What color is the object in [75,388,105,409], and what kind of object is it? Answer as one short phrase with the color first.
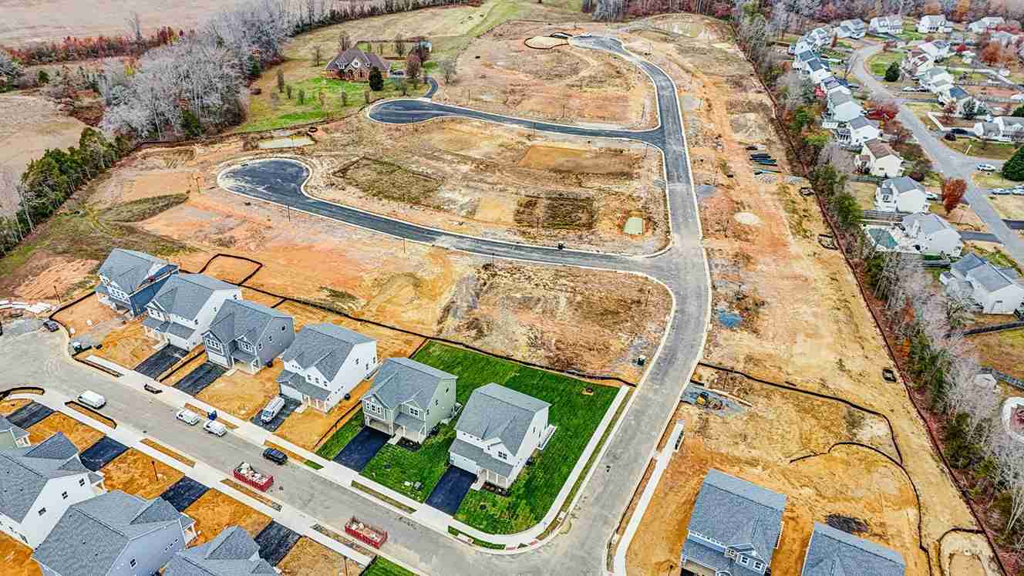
white vehicle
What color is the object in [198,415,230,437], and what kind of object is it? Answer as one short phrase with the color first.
white vehicle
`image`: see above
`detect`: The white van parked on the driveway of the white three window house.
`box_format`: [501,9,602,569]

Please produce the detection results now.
[256,396,287,425]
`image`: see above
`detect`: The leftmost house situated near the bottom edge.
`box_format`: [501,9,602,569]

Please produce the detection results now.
[0,428,117,557]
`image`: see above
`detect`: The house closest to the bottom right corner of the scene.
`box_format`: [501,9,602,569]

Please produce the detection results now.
[816,525,926,576]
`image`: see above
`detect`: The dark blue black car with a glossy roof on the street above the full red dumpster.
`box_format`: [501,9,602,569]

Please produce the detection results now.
[260,448,289,467]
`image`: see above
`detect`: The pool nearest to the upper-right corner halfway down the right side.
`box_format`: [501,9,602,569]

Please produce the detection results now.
[863,224,920,251]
